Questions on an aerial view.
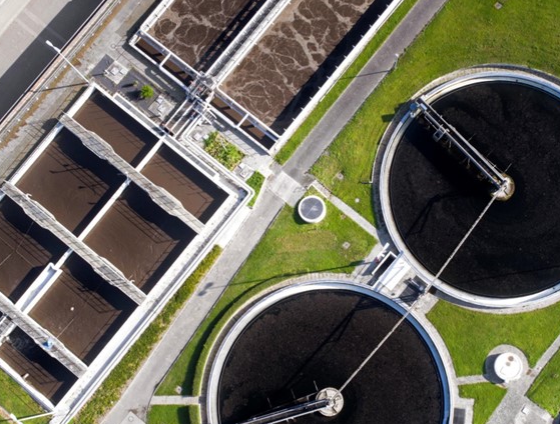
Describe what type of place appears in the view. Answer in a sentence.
This looks like an industrial area.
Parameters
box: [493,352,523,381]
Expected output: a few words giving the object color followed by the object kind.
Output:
white storage tank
